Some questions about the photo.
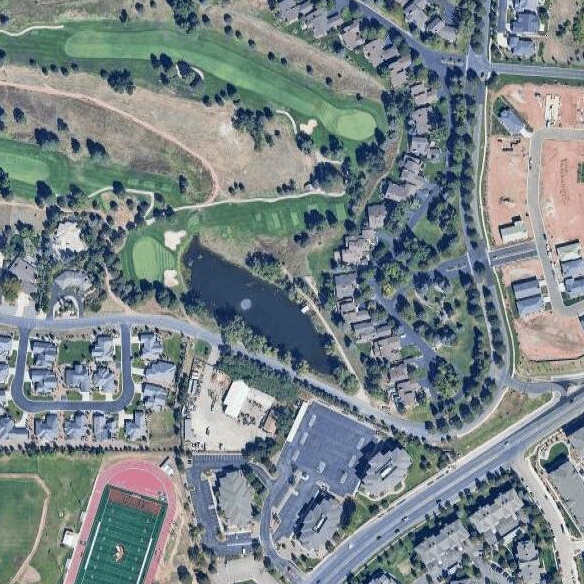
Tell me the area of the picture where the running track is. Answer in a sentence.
The running track is in the bottom left part of the image.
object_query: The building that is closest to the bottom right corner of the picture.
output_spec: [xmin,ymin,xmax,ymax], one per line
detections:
[518,555,542,584]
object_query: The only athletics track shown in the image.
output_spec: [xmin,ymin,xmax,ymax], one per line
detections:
[66,463,176,584]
